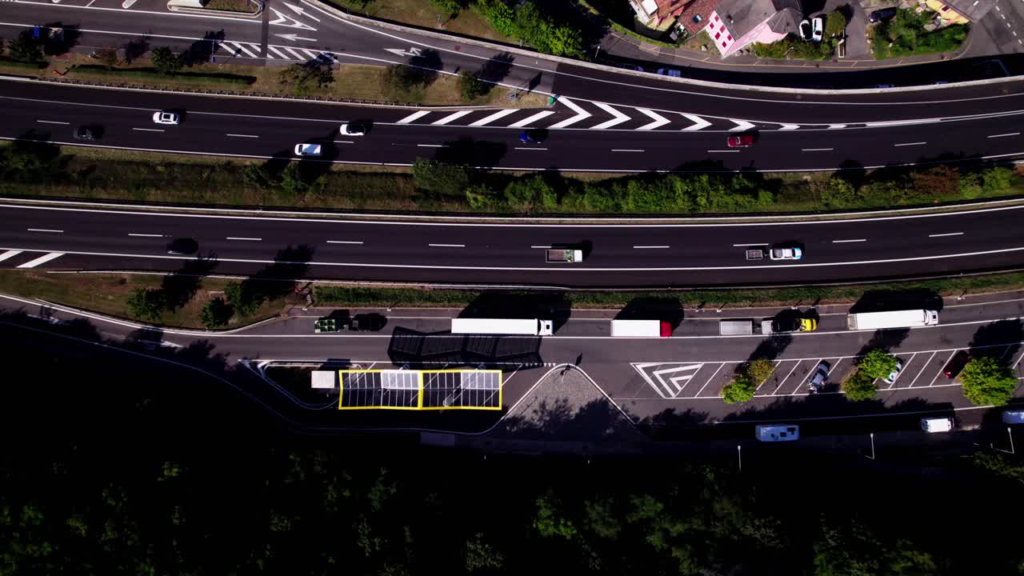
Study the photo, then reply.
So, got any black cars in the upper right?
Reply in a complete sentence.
Yes, a black car can be seen in the upper right.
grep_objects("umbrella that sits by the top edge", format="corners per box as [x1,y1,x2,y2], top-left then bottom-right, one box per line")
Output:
[935,11,949,24]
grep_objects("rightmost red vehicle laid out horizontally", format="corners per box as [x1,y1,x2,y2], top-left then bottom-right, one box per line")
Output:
[727,134,754,147]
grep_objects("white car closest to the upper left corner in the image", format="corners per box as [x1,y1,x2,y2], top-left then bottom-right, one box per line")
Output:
[153,111,180,125]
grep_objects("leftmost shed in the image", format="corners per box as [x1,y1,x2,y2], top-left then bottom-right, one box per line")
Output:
[312,370,338,388]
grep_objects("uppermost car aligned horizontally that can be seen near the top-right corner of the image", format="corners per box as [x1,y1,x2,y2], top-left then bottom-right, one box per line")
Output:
[868,7,896,23]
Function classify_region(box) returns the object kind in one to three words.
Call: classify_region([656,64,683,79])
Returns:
vehicle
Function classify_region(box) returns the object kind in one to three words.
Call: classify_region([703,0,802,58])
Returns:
house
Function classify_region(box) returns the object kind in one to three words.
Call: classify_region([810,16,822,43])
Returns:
vehicle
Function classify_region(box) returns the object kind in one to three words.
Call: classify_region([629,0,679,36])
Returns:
house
